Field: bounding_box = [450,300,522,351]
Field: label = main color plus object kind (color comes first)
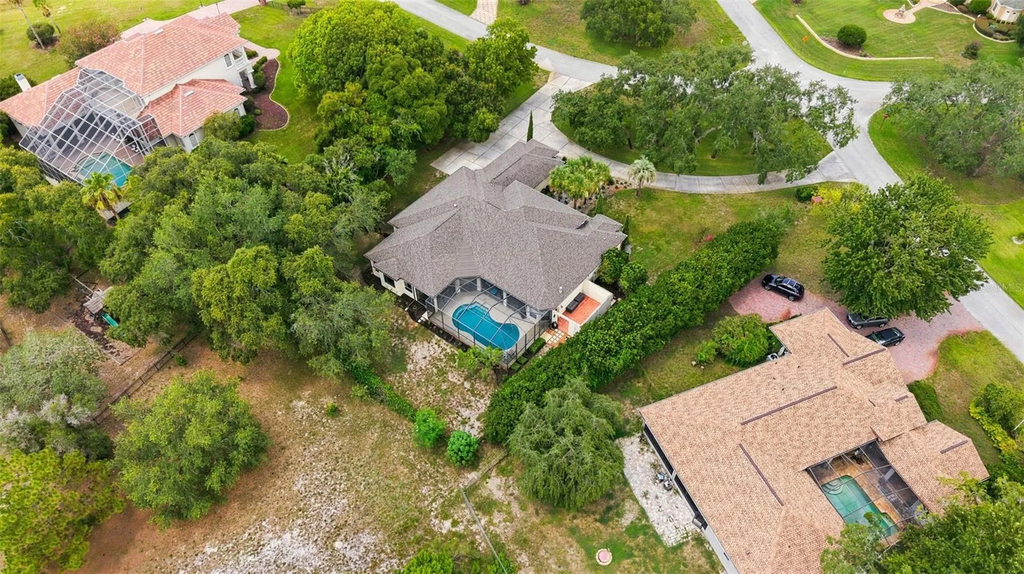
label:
blue swimming pool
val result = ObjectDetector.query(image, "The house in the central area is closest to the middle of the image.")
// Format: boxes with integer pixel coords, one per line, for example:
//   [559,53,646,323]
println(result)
[365,138,629,323]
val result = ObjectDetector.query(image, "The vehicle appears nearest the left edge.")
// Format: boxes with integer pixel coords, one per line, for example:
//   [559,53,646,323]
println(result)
[762,274,806,301]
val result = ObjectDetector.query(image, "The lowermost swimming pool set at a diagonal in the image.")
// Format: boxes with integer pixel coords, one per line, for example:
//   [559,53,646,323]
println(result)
[819,473,902,556]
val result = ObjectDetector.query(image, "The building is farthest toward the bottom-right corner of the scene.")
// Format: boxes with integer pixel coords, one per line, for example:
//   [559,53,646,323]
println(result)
[639,306,987,574]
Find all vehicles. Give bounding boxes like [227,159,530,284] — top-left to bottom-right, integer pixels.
[762,274,806,301]
[862,325,905,347]
[847,308,891,329]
